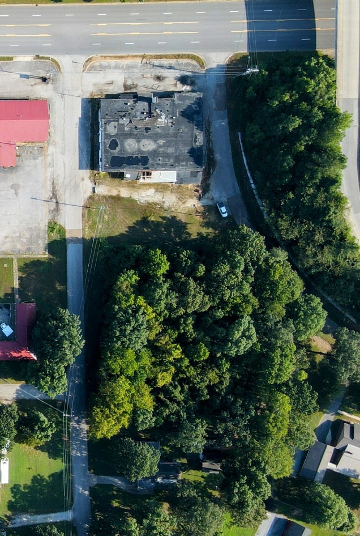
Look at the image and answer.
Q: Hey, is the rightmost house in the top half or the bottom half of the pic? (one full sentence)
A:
Seen from above, the rightmost house lies in the bottom half of the view.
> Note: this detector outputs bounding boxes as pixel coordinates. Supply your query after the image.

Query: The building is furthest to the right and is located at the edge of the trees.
[328,423,360,478]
